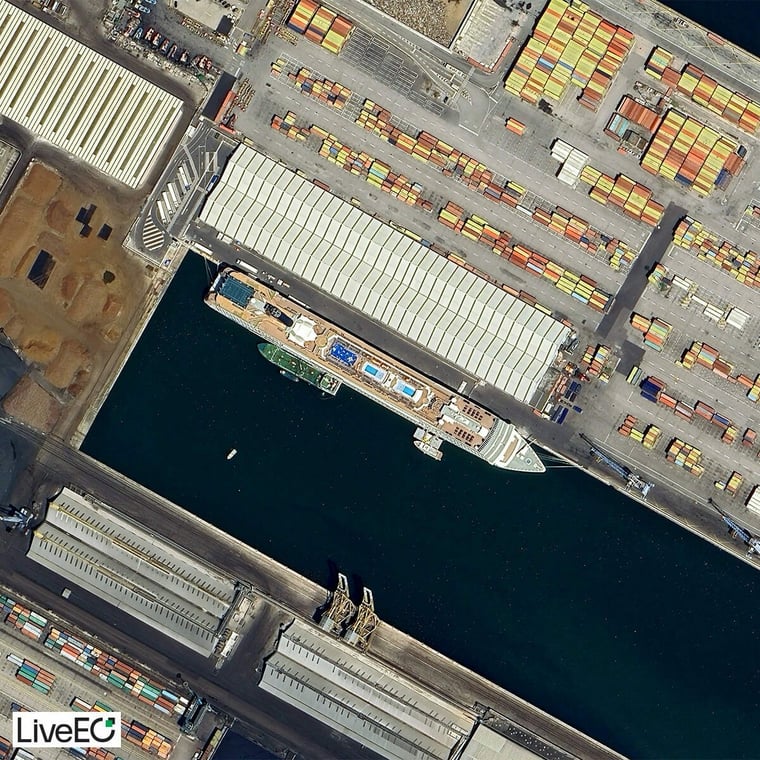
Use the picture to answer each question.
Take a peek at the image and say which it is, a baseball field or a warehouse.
warehouse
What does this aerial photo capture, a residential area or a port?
port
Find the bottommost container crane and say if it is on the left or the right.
left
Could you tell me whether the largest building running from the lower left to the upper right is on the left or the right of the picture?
left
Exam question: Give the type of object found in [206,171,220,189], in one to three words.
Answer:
vehicle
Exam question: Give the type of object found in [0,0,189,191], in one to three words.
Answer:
warehouse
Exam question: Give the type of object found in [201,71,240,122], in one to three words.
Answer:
building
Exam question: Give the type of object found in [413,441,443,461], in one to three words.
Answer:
boat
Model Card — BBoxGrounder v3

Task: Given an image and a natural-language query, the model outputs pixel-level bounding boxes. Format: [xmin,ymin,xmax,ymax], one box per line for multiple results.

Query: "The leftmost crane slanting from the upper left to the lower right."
[589,448,658,503]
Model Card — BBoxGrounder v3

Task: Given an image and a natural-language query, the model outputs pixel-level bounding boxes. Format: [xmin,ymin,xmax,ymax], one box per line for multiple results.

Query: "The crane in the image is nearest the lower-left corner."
[170,686,222,736]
